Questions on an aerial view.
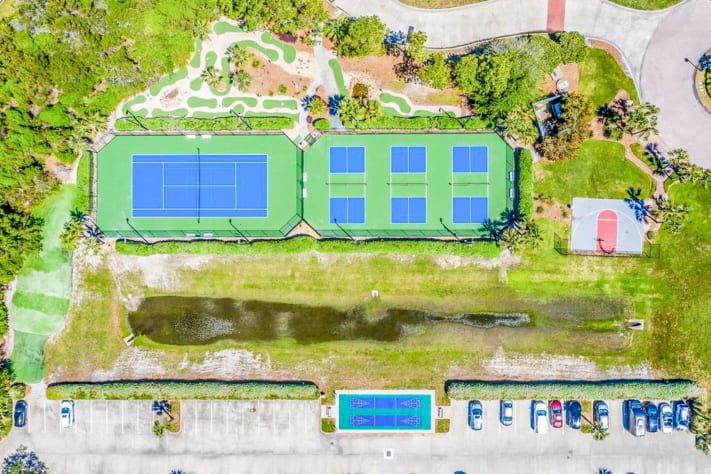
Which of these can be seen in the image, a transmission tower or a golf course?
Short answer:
golf course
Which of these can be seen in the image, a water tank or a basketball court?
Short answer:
basketball court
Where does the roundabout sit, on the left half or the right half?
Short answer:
right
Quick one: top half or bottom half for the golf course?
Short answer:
top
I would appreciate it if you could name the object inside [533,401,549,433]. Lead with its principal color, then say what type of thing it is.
white car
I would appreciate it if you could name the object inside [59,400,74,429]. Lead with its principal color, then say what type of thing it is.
white car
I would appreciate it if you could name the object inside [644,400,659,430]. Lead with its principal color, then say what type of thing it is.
blue car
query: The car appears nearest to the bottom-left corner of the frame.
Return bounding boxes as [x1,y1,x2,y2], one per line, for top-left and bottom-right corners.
[11,400,26,428]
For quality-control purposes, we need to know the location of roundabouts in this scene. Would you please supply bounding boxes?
[639,0,711,174]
